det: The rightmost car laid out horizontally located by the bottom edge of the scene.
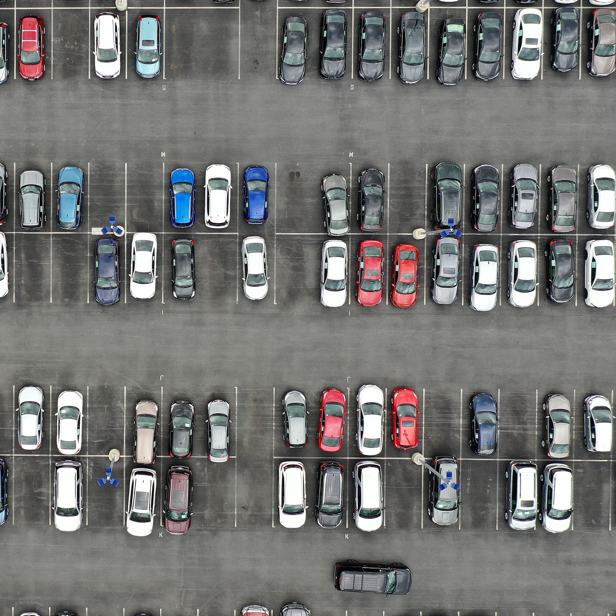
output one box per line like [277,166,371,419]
[333,561,413,600]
